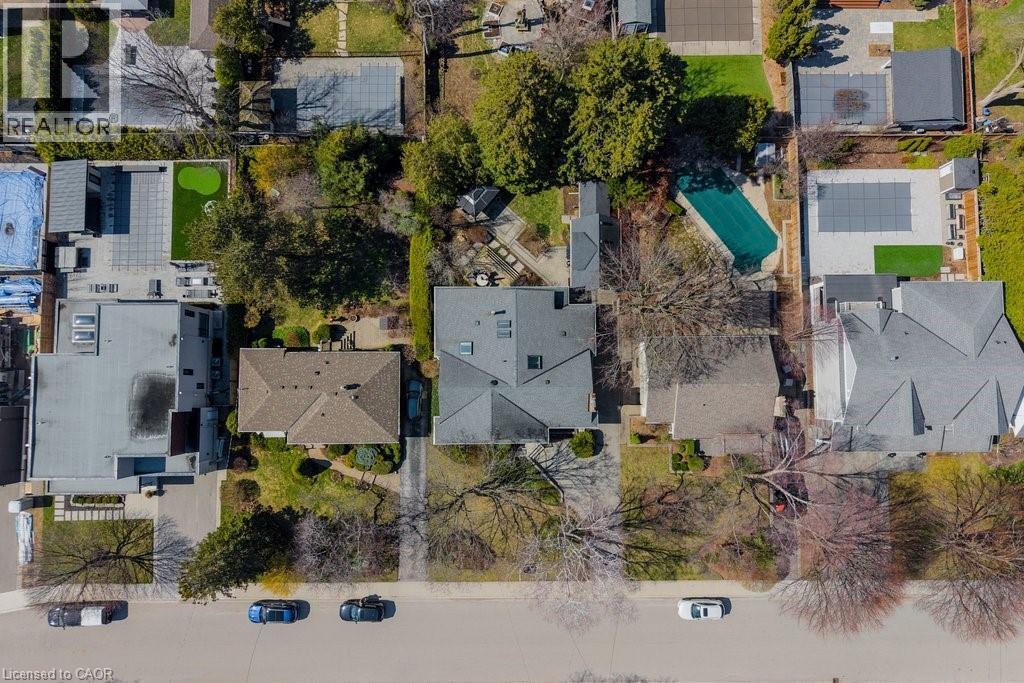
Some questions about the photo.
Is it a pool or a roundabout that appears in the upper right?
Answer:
pool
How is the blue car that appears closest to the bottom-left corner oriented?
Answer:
from side to side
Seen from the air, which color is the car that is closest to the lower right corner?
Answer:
white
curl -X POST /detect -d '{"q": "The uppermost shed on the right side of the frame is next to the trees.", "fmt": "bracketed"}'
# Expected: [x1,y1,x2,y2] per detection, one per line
[615,0,652,33]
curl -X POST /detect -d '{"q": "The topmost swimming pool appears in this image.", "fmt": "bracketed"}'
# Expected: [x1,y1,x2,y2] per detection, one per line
[654,0,756,44]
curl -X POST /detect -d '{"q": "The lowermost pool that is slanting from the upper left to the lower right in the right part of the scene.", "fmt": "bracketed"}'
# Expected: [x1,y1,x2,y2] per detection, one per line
[678,168,777,275]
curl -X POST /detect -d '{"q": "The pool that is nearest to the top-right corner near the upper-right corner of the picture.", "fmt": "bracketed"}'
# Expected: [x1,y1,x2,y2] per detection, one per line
[798,70,890,129]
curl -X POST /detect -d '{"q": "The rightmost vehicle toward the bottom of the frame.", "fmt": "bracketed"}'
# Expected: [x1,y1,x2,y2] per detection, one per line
[677,597,725,621]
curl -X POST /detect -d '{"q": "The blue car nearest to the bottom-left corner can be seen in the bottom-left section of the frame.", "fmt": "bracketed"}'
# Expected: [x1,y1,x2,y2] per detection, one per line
[248,600,297,625]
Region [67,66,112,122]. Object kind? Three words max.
swimming pool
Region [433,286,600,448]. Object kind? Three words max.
house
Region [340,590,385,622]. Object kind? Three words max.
car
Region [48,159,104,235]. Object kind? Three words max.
building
